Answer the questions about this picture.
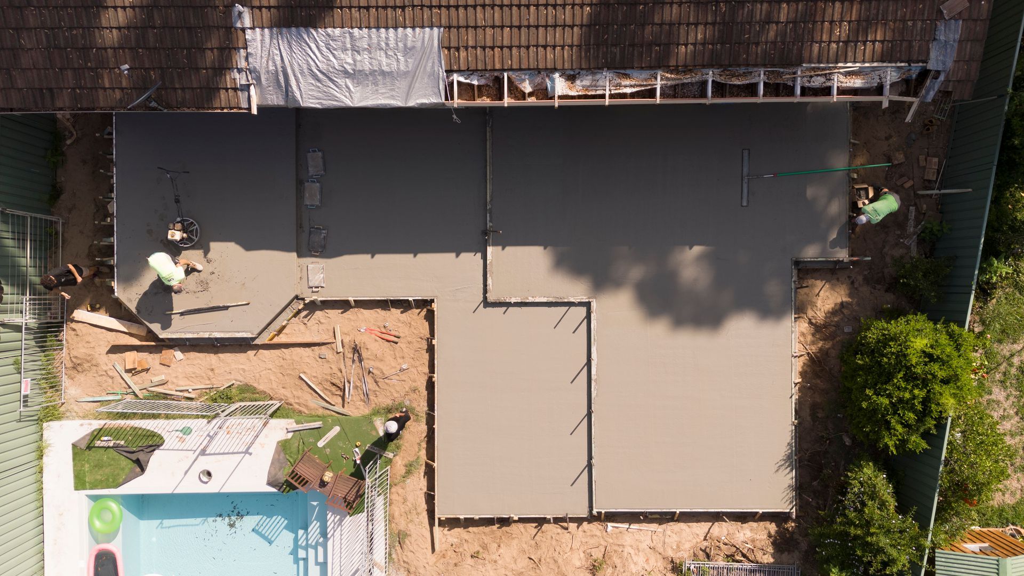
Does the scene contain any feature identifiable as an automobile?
No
